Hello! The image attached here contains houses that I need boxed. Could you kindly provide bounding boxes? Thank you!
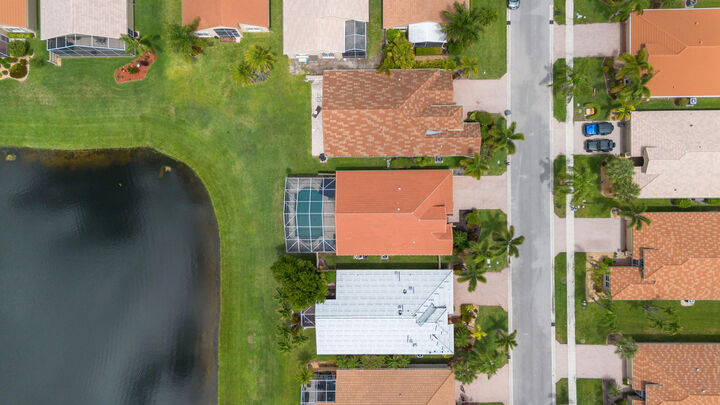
[40,0,131,45]
[0,0,36,32]
[314,269,454,356]
[604,212,720,301]
[335,169,455,256]
[628,342,720,405]
[321,70,483,157]
[181,0,270,37]
[316,367,455,405]
[626,9,720,98]
[283,0,370,60]
[626,110,720,199]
